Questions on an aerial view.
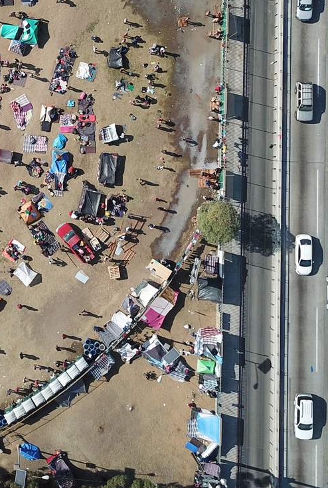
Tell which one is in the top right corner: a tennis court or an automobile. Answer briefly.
automobile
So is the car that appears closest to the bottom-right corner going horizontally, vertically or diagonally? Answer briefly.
vertically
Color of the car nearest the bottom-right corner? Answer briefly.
white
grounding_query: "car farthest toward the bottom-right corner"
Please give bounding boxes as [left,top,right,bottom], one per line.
[292,391,316,439]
